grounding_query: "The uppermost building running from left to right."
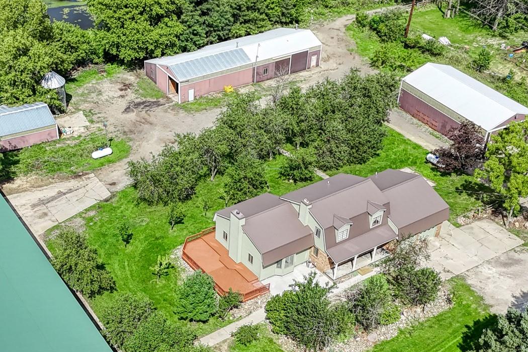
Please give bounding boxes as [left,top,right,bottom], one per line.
[143,25,324,104]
